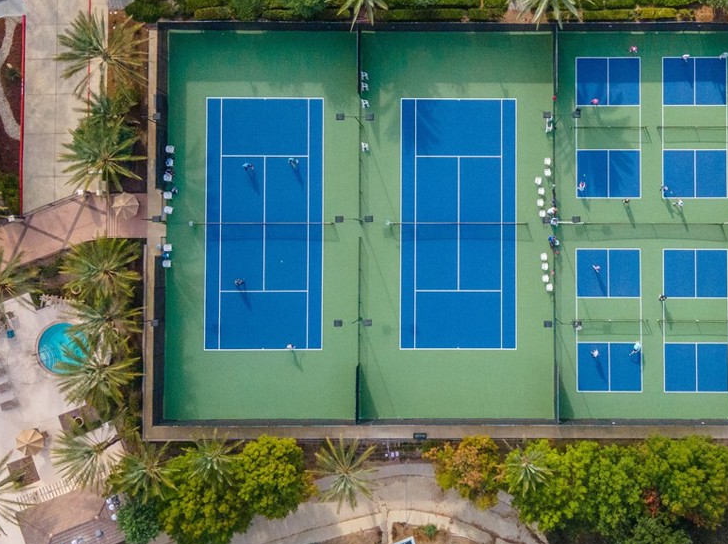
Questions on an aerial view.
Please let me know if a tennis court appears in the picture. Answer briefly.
Yes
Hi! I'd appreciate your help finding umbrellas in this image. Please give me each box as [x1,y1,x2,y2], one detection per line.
[113,192,140,219]
[17,427,47,455]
